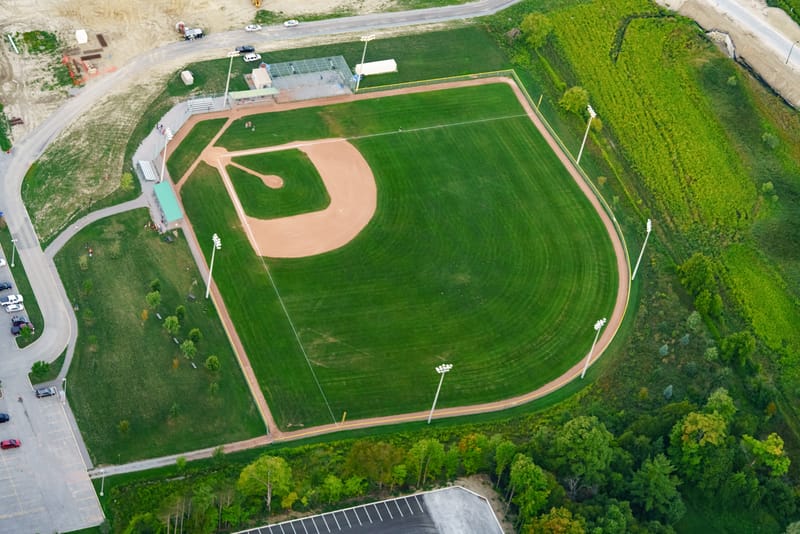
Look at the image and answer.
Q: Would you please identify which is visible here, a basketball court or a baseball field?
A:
baseball field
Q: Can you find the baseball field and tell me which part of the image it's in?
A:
center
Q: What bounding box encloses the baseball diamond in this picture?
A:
[159,76,628,444]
